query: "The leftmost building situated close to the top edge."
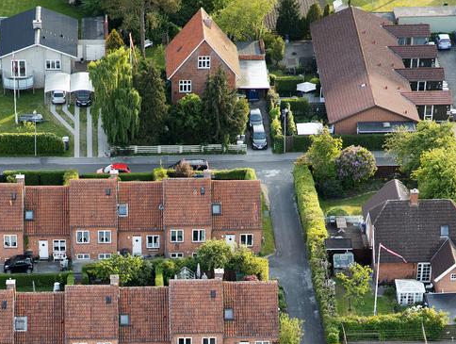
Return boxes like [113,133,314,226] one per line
[0,2,75,95]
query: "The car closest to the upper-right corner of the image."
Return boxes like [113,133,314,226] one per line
[436,33,453,52]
